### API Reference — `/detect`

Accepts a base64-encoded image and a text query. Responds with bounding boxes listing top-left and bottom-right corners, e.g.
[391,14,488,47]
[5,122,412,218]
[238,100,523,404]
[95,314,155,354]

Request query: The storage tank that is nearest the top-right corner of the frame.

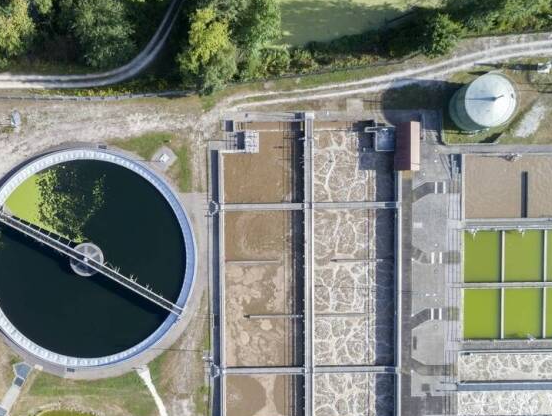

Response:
[450,72,520,137]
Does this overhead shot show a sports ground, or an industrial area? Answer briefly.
industrial area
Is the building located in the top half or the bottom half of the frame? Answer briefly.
top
